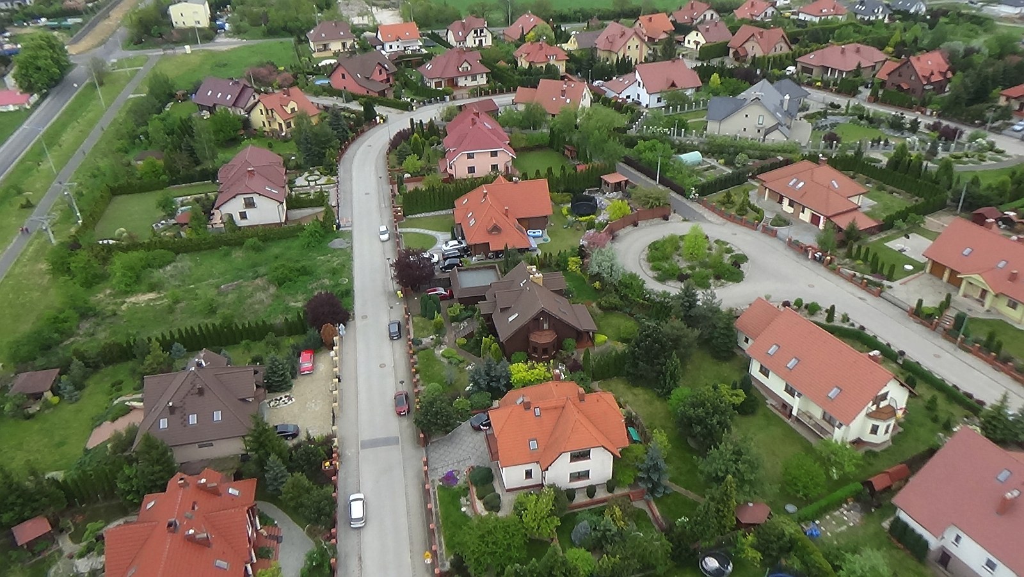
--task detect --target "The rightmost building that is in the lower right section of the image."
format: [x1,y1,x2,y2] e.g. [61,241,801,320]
[897,425,1024,577]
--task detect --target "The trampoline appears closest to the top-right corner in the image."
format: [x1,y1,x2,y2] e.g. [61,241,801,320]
[570,195,598,214]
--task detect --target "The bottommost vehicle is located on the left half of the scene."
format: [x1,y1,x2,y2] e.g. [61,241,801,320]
[345,489,367,525]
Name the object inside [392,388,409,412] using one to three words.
car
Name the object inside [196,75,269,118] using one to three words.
house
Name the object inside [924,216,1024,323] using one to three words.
house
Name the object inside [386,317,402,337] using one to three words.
car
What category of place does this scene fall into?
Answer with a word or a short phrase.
residential area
